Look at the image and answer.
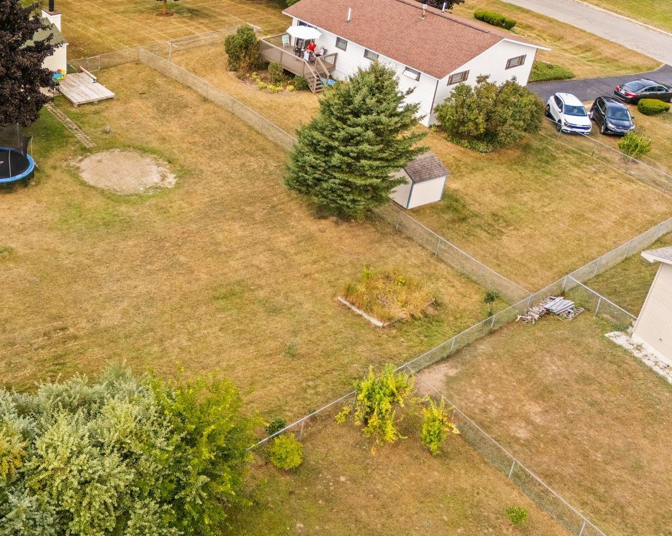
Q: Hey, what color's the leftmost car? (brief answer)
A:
white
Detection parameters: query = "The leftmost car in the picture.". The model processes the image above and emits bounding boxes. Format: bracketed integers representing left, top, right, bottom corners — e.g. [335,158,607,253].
[548,91,592,132]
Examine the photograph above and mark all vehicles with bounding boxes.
[548,91,592,132]
[618,78,672,106]
[591,90,637,132]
